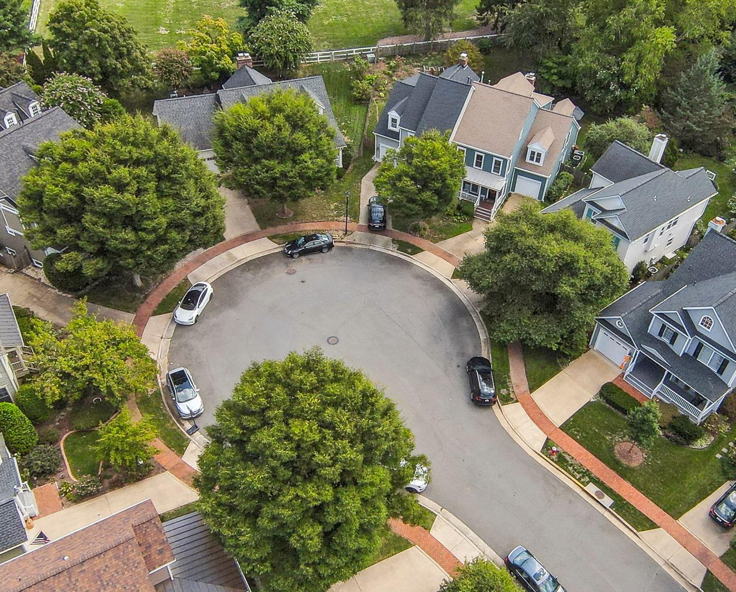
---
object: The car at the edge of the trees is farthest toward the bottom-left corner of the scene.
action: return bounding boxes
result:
[168,366,205,421]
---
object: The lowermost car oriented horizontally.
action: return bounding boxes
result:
[283,237,336,261]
